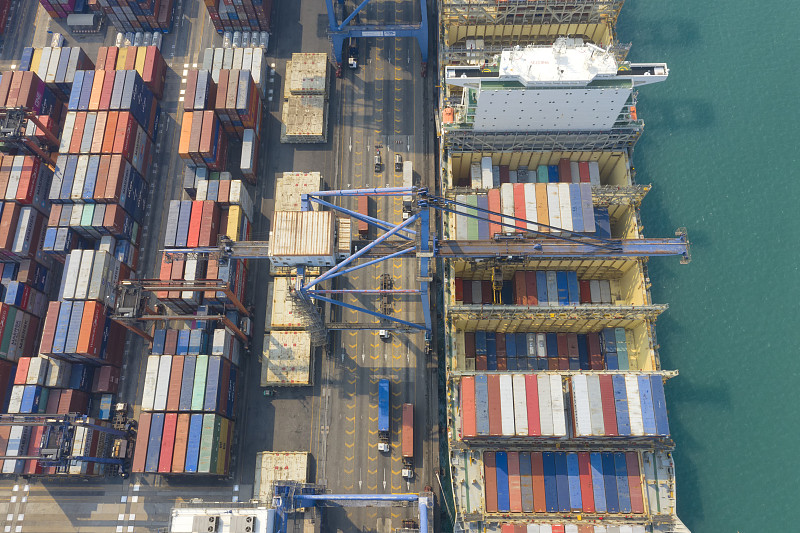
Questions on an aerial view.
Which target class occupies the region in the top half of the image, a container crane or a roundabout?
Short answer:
container crane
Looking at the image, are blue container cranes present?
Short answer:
Yes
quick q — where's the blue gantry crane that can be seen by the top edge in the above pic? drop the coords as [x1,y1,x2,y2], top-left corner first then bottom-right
[323,0,427,77]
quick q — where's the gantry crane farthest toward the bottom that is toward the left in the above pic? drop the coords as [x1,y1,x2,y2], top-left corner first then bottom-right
[166,481,443,533]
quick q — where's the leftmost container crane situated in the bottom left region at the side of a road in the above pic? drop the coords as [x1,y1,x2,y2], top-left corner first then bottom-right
[0,408,138,473]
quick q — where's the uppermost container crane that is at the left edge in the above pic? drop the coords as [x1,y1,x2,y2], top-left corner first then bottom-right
[0,99,64,163]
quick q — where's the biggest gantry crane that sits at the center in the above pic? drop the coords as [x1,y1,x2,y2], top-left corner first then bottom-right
[159,173,703,355]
